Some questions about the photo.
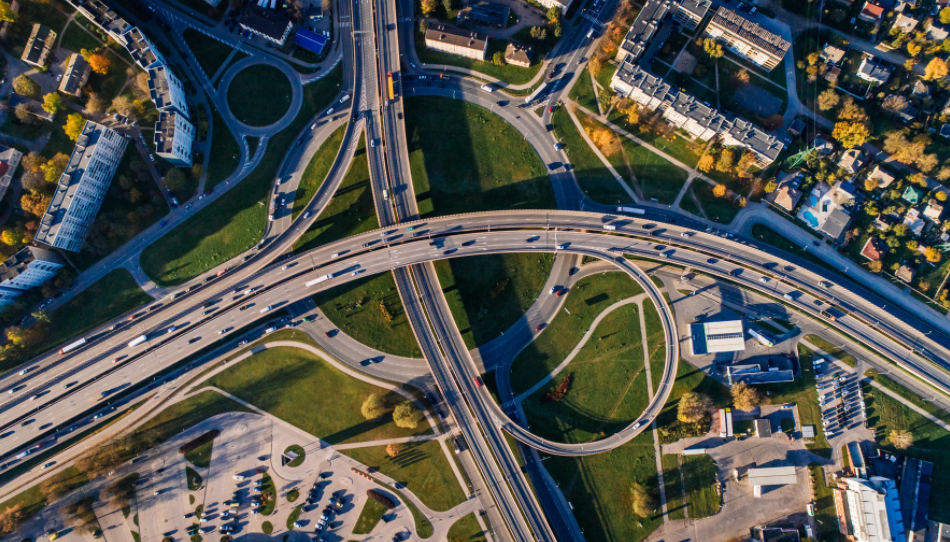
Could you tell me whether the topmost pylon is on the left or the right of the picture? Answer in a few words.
right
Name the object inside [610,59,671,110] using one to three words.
building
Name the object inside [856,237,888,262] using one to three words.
house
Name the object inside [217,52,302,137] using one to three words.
roundabout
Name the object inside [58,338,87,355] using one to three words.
vehicle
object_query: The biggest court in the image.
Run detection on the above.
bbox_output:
[734,81,783,118]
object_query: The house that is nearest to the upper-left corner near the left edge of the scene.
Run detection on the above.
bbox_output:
[21,22,58,69]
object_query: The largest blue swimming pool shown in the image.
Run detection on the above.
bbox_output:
[802,211,820,227]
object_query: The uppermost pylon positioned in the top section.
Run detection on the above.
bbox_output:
[778,149,815,170]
